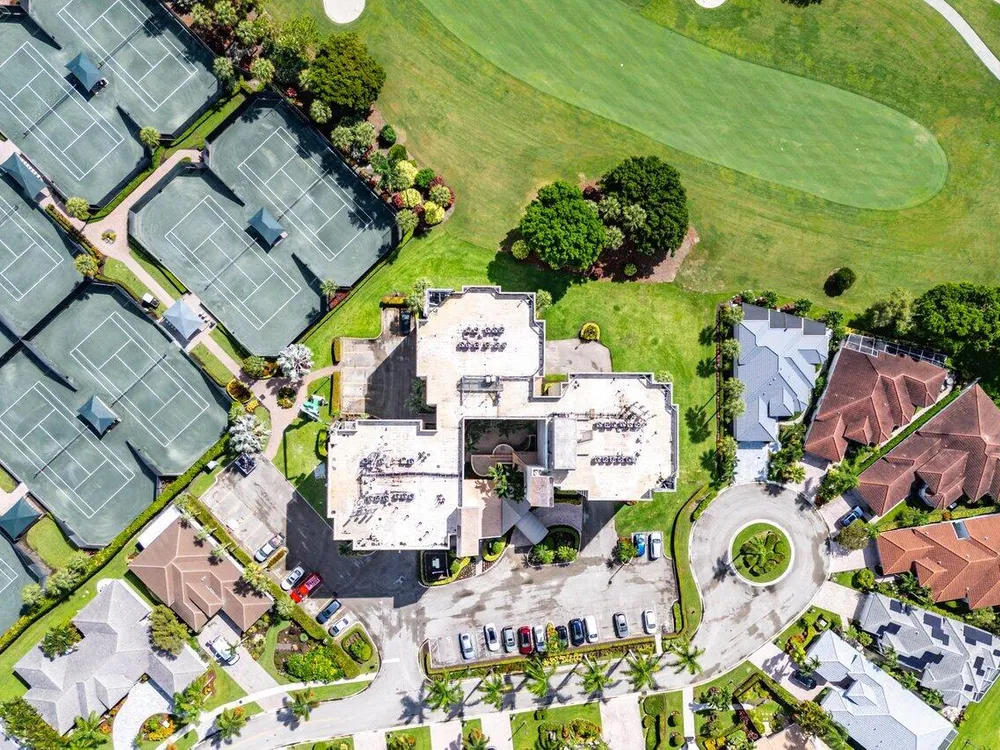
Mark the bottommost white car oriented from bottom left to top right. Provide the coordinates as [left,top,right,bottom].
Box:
[331,613,354,639]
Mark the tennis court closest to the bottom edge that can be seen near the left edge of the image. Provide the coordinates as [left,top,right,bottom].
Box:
[0,540,36,633]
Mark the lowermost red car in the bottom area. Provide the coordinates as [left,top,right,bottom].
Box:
[519,625,532,653]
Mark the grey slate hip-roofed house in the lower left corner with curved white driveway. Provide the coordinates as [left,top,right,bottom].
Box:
[14,577,208,735]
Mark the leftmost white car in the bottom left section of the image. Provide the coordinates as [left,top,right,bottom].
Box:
[209,635,235,664]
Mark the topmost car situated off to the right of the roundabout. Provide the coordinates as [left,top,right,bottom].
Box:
[838,504,865,525]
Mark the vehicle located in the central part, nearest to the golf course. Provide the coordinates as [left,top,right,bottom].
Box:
[397,308,411,335]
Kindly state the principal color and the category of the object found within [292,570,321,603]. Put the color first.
red truck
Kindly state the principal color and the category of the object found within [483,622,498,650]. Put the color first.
white car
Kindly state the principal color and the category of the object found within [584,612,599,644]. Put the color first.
white vehicle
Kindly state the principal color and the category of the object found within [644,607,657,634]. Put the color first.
white vehicle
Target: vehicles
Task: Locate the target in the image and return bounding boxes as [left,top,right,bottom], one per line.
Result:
[461,631,474,658]
[519,625,532,653]
[648,531,660,559]
[614,610,629,638]
[644,607,657,634]
[556,620,569,647]
[255,532,282,561]
[584,612,599,644]
[570,616,585,645]
[483,622,498,650]
[634,532,646,557]
[209,635,235,664]
[397,308,411,335]
[788,667,816,688]
[292,570,321,603]
[282,564,305,590]
[838,504,865,525]
[503,624,516,652]
[142,290,159,304]
[533,623,547,650]
[331,613,354,639]
[314,598,340,625]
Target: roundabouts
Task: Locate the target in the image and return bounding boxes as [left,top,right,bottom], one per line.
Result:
[728,519,795,586]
